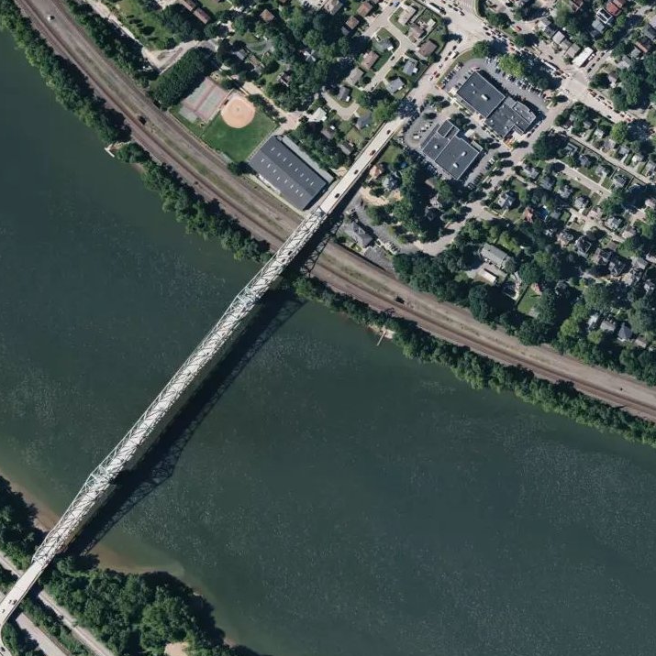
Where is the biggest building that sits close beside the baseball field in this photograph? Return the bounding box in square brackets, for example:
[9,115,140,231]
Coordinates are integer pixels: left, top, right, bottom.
[249,136,336,211]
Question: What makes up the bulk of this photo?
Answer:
water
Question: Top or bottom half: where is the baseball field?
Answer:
top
